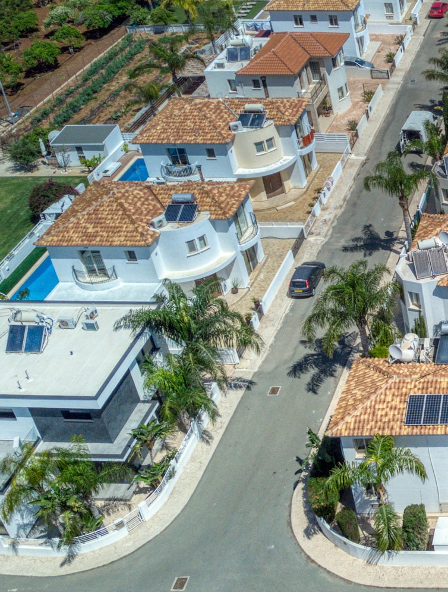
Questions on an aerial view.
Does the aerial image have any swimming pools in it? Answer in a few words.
Yes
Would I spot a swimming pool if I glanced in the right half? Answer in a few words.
No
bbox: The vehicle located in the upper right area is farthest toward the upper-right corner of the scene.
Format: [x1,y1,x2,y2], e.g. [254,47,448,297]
[431,1,448,16]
